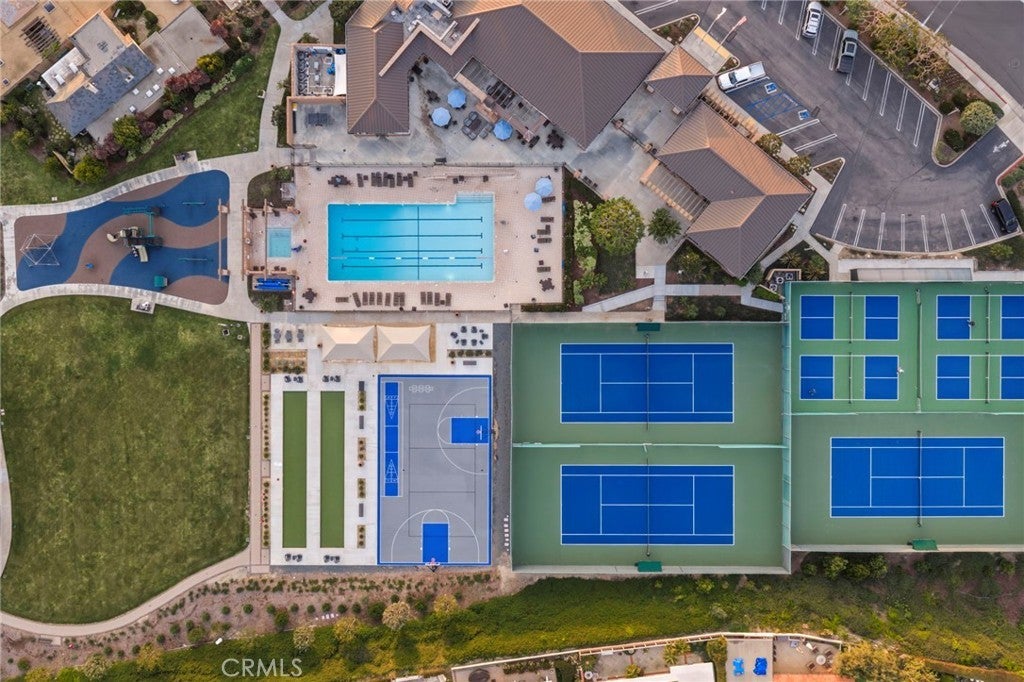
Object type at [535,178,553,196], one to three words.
umbrella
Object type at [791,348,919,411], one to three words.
sports court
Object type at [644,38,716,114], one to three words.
building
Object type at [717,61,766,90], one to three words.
truck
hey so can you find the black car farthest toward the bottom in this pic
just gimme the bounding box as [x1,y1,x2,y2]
[989,197,1016,234]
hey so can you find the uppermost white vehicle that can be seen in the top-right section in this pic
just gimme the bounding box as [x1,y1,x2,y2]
[800,3,821,40]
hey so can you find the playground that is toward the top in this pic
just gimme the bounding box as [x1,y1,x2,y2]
[15,170,230,304]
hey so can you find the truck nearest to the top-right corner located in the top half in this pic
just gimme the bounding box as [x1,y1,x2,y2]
[835,30,860,75]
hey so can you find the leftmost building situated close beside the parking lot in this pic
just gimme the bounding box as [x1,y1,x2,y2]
[344,0,666,150]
